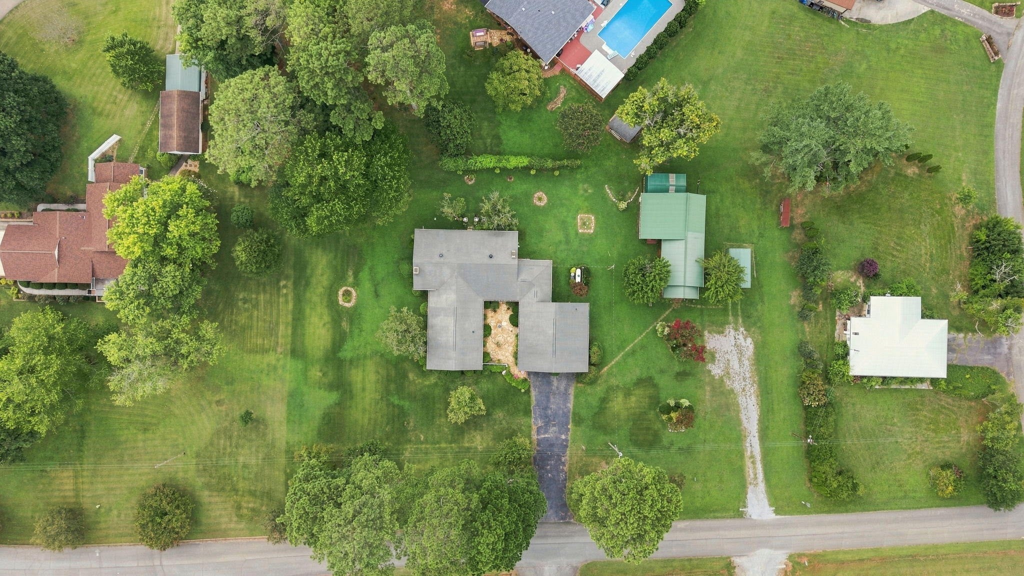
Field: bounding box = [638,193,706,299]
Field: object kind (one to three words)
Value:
barn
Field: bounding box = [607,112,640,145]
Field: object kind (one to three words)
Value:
shed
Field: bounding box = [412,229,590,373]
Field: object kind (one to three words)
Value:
house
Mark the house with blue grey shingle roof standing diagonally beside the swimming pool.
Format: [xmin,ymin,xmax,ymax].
[479,0,596,66]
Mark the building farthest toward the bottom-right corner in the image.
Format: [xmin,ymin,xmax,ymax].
[839,296,948,378]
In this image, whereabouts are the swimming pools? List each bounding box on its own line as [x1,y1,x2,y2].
[598,0,676,59]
